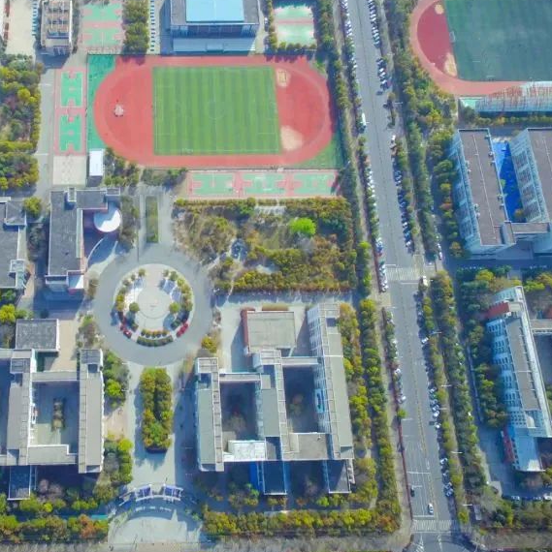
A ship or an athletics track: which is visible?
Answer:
athletics track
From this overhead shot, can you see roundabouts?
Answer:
Yes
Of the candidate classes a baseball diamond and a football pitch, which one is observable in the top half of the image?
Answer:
football pitch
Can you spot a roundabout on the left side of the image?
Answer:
Yes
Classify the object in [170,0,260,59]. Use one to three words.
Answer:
building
